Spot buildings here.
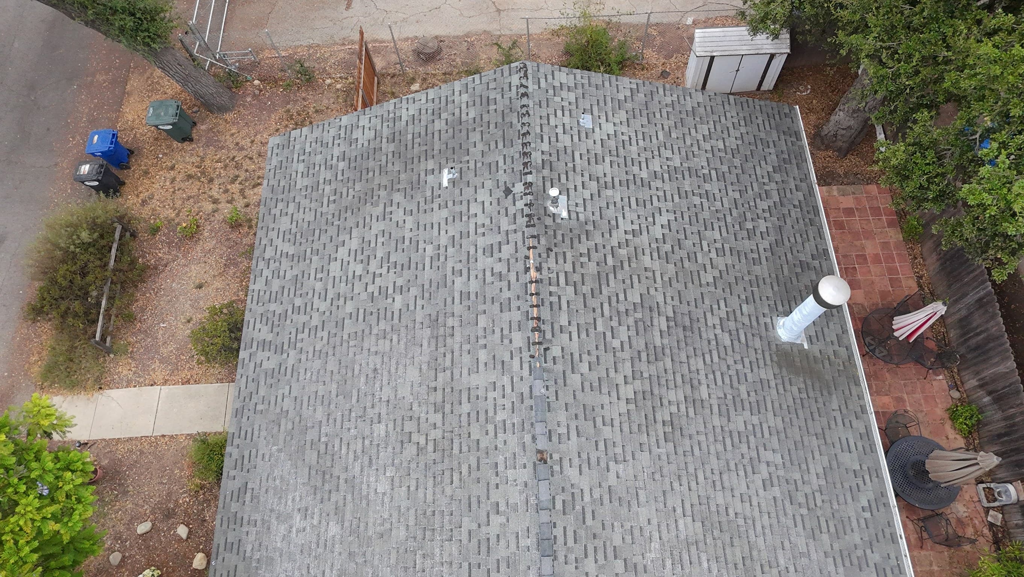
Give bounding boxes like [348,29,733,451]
[685,18,793,89]
[210,61,913,577]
